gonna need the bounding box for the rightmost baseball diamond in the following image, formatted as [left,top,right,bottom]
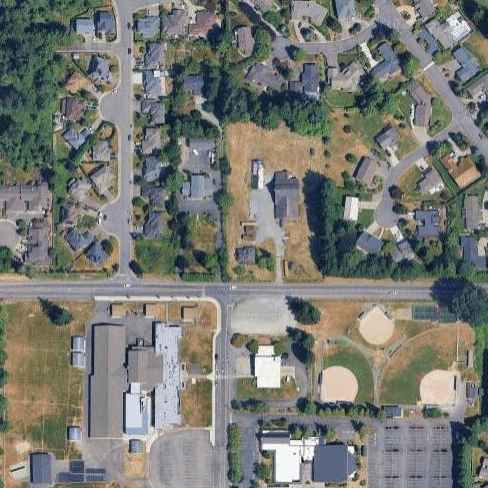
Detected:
[378,357,464,407]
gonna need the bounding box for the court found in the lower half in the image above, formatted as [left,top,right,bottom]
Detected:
[411,305,458,324]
